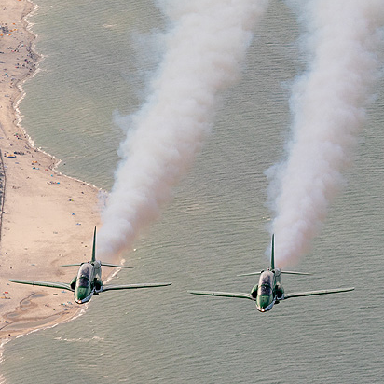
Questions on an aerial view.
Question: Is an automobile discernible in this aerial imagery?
No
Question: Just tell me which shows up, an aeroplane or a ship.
aeroplane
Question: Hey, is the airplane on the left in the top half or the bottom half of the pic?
bottom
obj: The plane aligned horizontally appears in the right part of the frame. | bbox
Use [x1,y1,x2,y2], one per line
[188,232,353,311]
